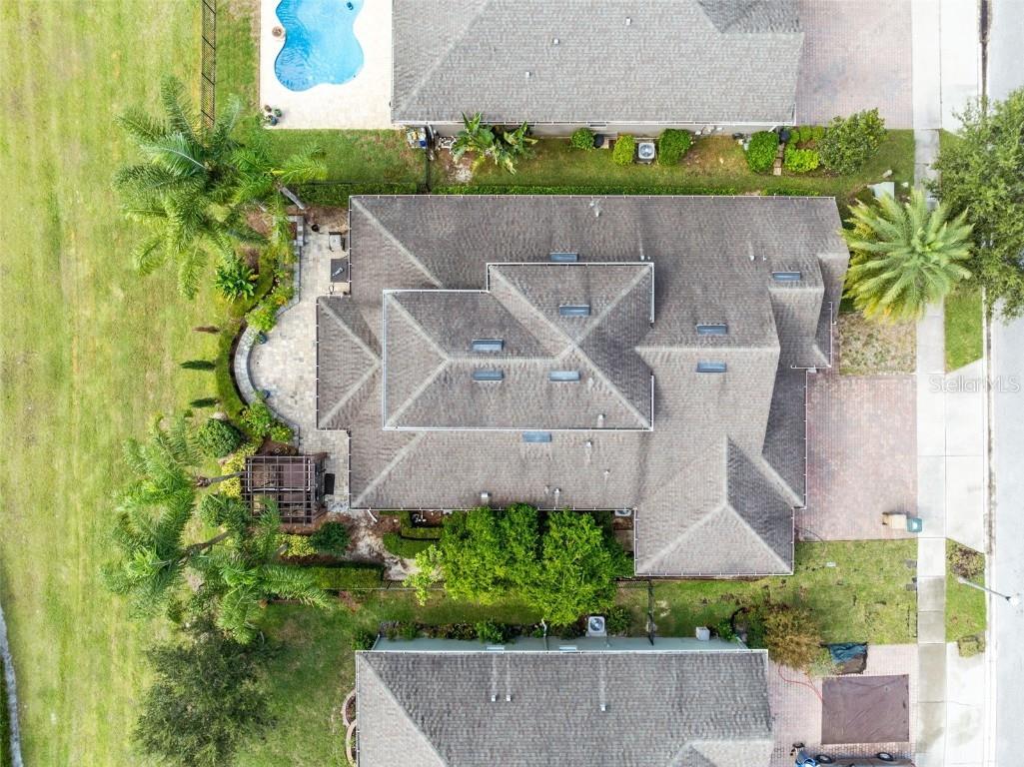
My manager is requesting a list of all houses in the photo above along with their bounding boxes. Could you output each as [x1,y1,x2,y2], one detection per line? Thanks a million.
[356,619,775,767]
[316,195,851,577]
[391,0,804,143]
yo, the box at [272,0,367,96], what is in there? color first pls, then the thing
blue swimming pool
